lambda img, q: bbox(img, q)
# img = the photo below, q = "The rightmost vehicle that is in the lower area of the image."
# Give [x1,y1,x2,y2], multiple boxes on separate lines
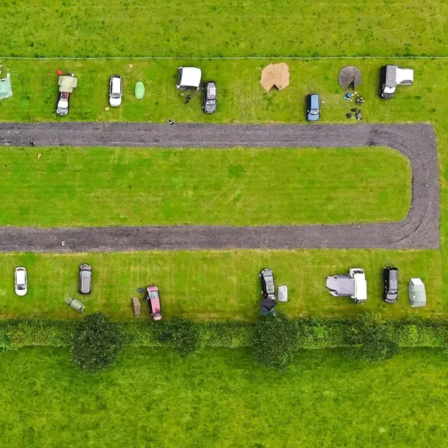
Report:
[381,267,400,303]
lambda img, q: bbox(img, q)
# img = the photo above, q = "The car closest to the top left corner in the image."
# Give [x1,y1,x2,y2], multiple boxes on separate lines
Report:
[55,86,70,116]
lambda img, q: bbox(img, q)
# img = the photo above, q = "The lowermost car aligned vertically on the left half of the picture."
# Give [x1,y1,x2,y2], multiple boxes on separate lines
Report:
[145,285,162,323]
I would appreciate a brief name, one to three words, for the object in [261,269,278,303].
car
